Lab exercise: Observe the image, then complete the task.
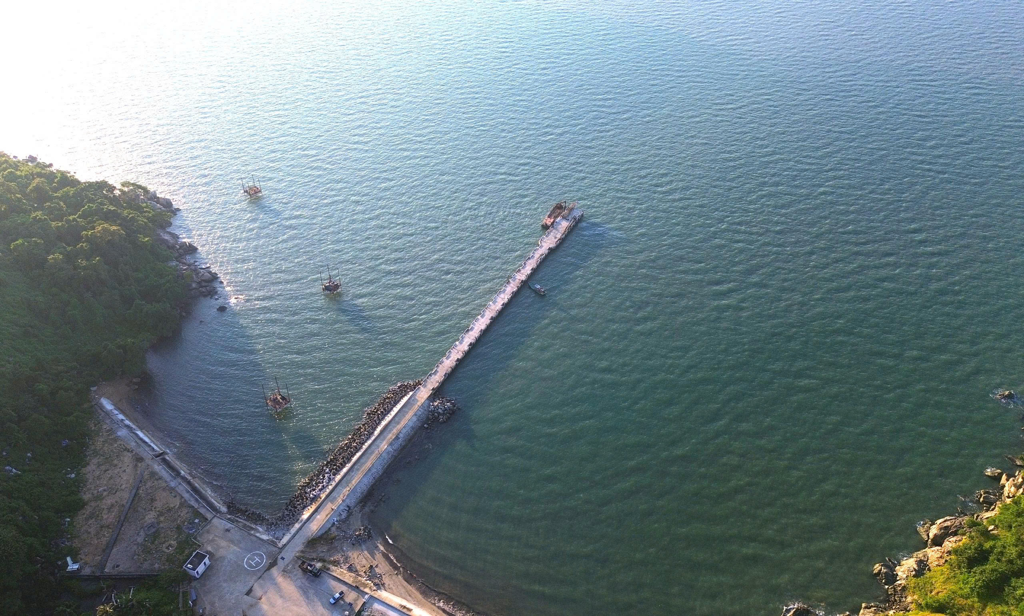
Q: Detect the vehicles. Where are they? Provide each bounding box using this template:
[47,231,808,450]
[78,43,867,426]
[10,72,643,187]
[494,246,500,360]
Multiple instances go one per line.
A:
[298,562,322,579]
[329,590,346,604]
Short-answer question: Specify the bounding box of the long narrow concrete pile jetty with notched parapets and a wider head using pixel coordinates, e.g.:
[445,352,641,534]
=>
[420,208,586,397]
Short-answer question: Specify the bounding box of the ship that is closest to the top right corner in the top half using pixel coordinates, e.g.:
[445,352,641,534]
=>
[540,199,564,228]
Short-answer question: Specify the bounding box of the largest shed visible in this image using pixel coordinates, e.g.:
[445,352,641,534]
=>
[183,551,212,579]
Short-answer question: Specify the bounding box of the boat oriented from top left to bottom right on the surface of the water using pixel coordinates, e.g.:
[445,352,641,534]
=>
[528,281,547,295]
